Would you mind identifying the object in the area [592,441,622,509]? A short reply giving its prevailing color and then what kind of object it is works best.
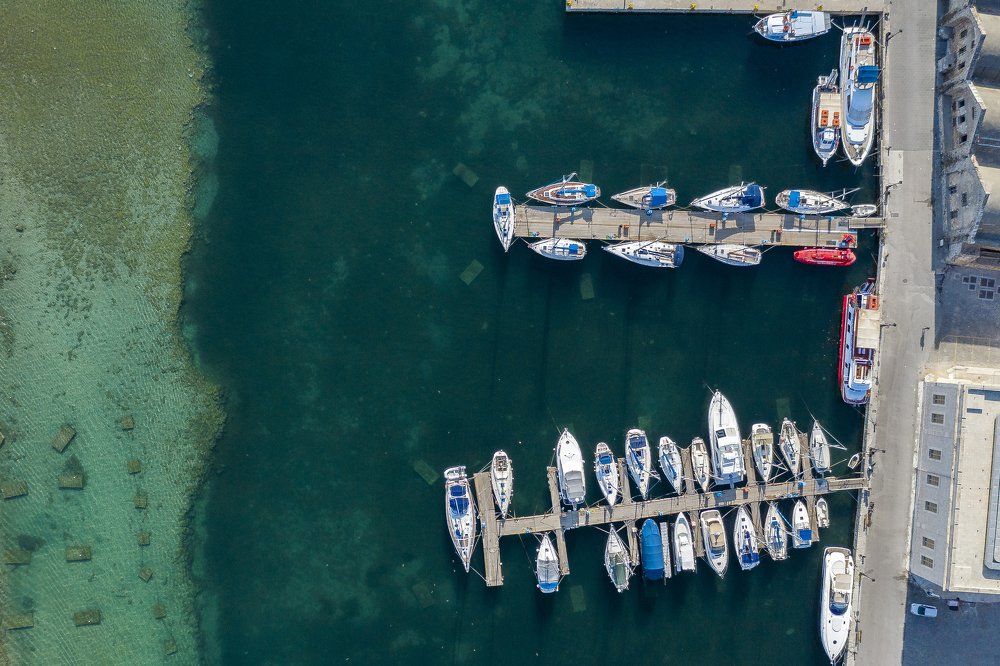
white boat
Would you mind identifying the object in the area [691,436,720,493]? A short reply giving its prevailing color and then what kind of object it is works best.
white boat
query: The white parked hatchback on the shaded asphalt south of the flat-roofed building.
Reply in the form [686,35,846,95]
[911,603,941,619]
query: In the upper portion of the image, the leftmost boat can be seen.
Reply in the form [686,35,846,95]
[492,183,522,252]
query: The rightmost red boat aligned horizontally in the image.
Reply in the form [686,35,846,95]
[792,247,857,266]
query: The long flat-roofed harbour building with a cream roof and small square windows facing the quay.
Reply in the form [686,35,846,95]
[911,382,1000,597]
